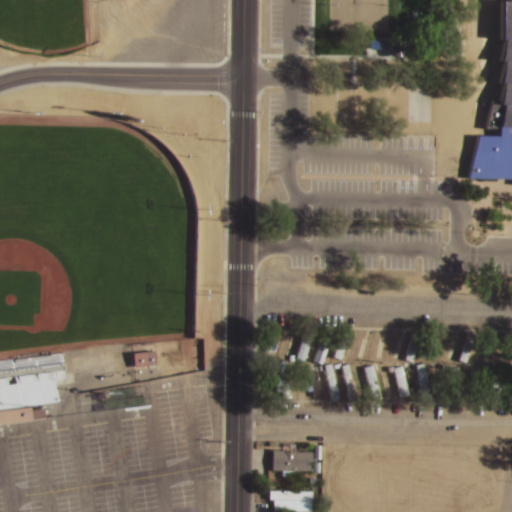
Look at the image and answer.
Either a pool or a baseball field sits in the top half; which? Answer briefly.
baseball field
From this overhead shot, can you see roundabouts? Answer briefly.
No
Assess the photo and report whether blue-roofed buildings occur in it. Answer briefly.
Yes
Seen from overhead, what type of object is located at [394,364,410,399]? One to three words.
house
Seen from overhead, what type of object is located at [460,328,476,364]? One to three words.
house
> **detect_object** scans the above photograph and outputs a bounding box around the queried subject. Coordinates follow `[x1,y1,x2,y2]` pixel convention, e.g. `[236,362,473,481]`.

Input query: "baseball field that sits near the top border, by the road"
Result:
[0,0,88,56]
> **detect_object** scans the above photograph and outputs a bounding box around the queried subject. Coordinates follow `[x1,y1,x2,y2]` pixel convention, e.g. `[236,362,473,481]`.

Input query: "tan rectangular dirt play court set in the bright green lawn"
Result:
[331,0,388,33]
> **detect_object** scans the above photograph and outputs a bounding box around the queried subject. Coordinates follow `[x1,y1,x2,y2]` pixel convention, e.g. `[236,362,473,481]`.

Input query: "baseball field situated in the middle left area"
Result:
[0,116,197,360]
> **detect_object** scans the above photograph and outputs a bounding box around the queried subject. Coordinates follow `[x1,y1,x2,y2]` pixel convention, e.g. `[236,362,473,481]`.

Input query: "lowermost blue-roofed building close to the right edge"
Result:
[470,126,512,180]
